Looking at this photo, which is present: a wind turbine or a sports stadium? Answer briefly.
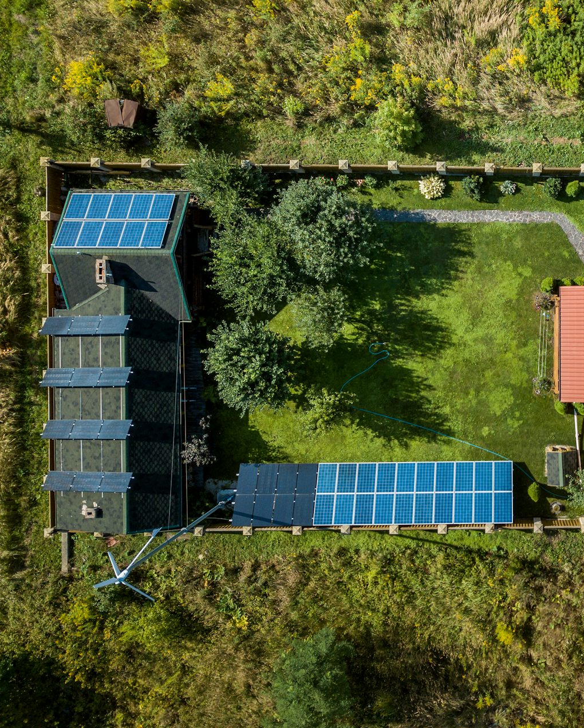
wind turbine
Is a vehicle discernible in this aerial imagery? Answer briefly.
No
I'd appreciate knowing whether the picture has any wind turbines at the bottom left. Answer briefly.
Yes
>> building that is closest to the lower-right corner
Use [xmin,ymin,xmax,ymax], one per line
[548,447,576,489]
